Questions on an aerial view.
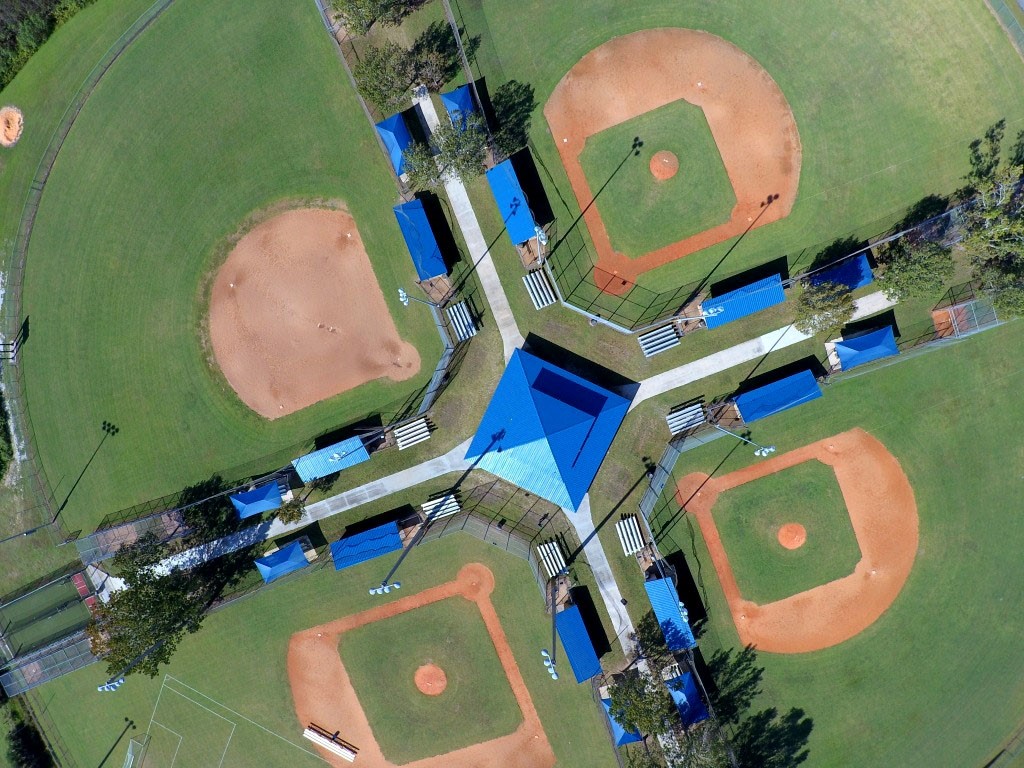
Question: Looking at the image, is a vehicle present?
No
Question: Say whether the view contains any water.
No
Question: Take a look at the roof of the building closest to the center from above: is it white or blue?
blue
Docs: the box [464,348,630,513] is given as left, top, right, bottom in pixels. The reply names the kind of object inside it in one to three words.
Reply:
building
